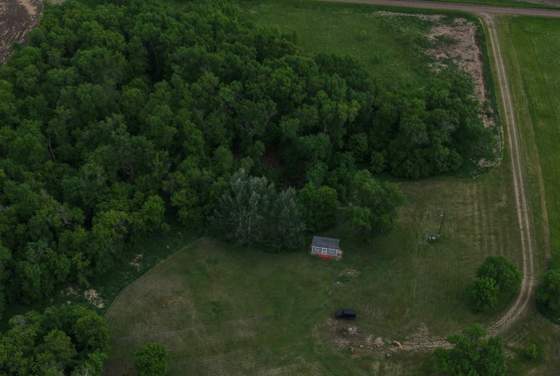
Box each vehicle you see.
[334,307,357,320]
